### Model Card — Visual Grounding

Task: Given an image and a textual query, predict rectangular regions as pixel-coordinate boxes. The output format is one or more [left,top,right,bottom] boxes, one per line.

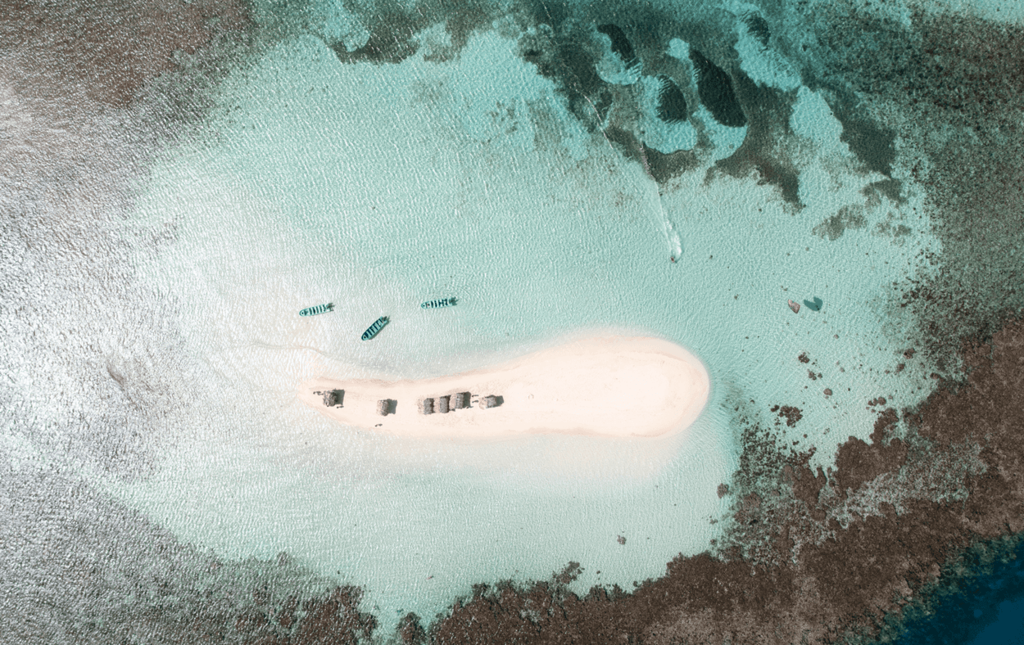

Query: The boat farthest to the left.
[299,304,333,316]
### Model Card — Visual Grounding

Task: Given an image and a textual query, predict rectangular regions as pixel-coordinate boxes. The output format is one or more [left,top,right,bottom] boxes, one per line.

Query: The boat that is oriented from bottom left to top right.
[361,317,387,340]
